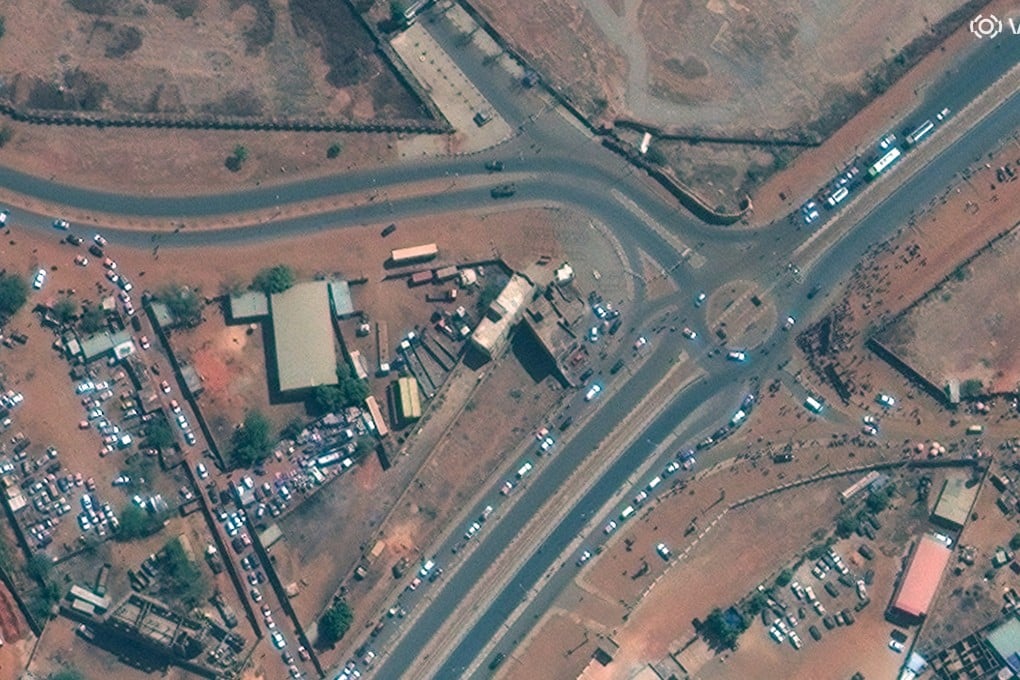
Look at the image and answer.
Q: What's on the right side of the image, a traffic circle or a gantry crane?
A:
traffic circle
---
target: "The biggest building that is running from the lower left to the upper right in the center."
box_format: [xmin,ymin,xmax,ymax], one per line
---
[472,273,538,357]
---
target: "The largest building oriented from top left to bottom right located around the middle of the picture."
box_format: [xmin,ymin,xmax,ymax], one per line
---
[523,295,581,369]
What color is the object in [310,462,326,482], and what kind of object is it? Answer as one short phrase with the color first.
white vehicle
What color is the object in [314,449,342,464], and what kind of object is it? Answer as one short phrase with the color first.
white vehicle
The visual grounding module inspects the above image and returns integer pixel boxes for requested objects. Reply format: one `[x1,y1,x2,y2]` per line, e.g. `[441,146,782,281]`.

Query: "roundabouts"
[707,281,777,349]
